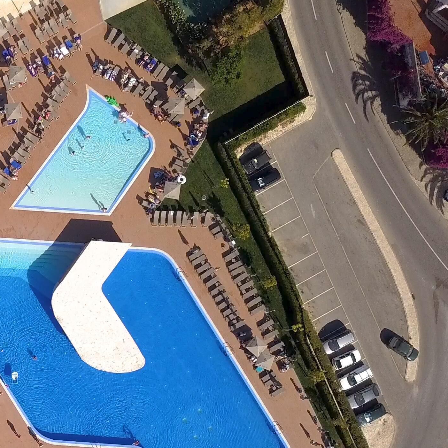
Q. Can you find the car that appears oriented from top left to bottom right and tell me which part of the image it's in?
bottom right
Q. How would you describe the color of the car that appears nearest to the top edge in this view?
black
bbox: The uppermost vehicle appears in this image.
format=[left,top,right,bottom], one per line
[238,146,278,177]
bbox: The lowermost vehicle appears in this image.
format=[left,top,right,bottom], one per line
[355,400,388,425]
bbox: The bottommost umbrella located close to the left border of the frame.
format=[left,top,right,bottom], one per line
[2,102,23,122]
